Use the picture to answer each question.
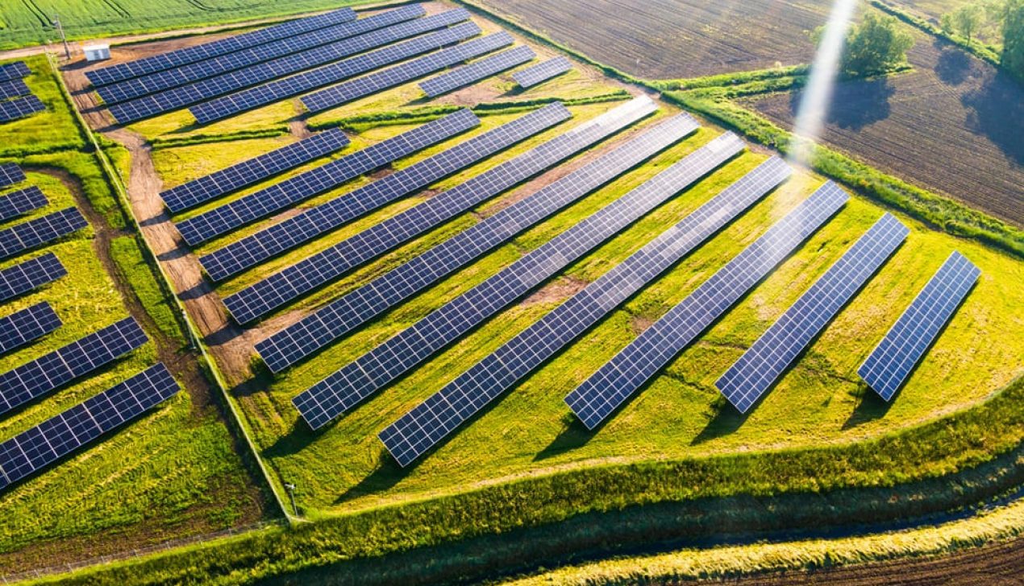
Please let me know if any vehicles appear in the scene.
No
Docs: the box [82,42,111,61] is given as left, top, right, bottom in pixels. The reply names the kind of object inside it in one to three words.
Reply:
shed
